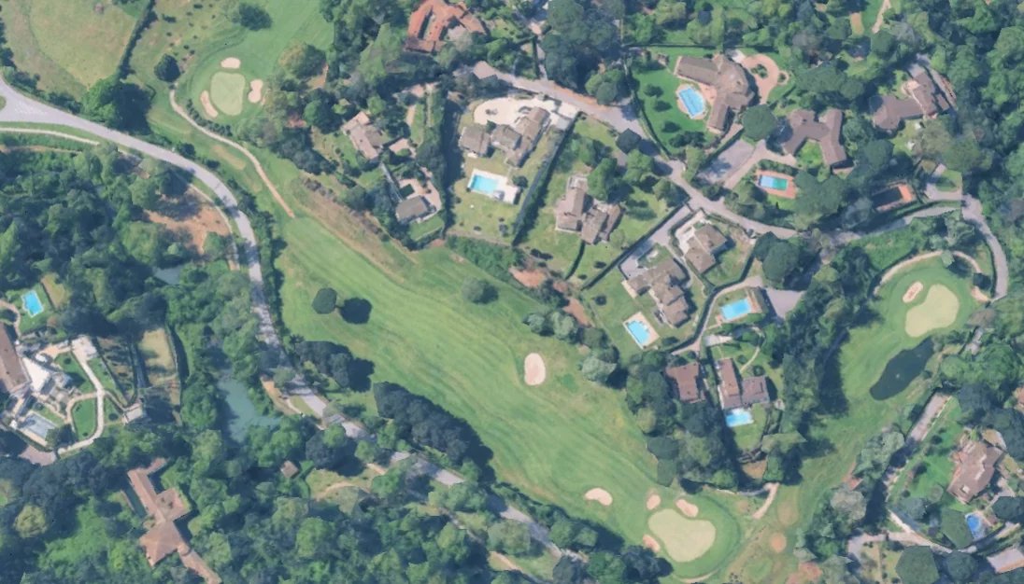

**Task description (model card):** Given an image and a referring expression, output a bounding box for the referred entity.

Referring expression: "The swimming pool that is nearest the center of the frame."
[467,169,519,204]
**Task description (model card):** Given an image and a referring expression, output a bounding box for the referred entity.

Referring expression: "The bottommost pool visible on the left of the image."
[123,482,149,518]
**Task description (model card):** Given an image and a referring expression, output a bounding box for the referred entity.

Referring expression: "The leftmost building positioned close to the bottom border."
[129,460,222,584]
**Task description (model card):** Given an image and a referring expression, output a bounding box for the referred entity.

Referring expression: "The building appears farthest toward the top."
[405,0,486,53]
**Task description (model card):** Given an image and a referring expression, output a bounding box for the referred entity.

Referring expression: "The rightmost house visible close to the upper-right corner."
[873,65,949,131]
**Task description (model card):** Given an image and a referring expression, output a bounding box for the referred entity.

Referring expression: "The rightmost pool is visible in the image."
[965,511,996,540]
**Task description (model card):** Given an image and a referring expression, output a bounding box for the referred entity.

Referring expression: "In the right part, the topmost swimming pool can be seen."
[676,84,708,119]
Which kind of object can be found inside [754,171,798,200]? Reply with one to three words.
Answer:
swimming pool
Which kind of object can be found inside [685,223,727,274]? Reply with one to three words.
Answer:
house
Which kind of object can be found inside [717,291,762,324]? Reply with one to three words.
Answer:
swimming pool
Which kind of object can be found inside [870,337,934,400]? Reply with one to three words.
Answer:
pond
